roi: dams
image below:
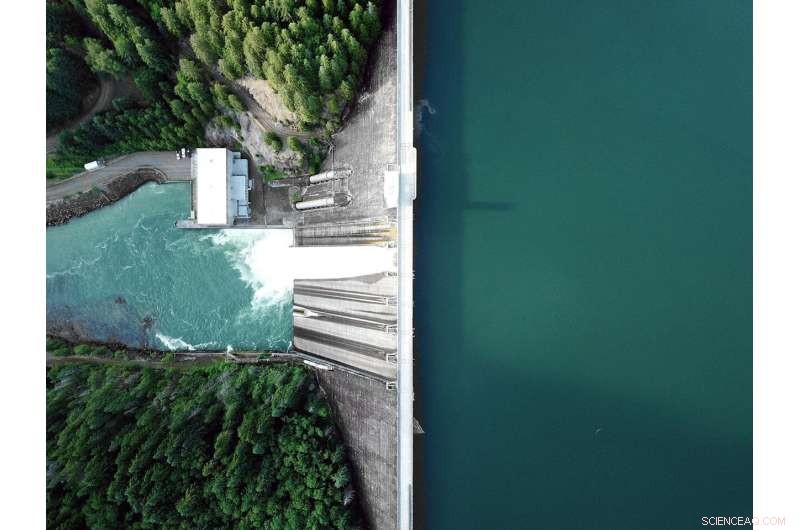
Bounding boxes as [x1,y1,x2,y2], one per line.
[288,0,423,530]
